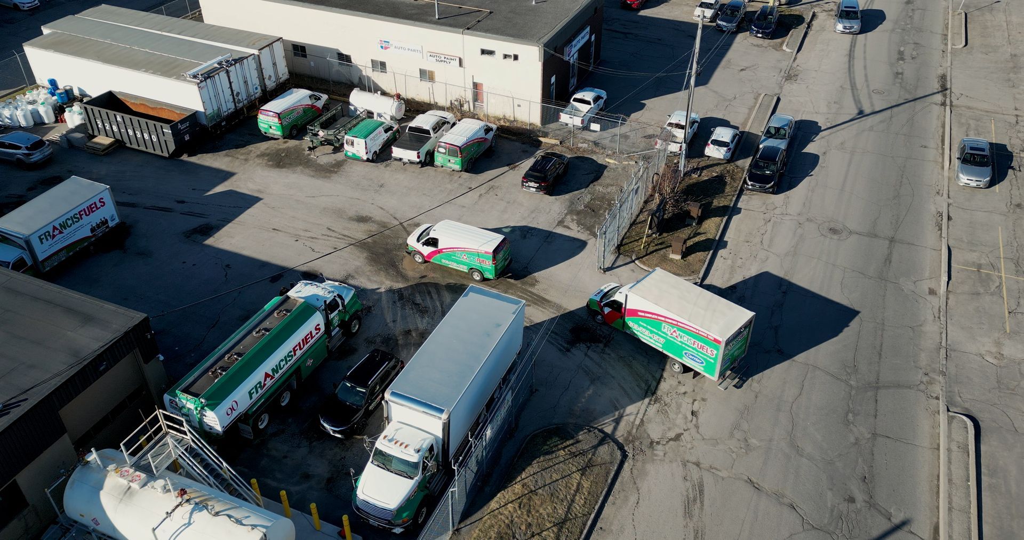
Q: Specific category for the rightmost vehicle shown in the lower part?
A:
truck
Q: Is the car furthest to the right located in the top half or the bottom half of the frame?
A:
top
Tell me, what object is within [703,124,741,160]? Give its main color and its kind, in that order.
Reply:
white car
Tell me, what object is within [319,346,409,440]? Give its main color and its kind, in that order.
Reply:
black car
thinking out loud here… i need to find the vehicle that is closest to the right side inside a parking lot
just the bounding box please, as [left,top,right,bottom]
[955,144,996,189]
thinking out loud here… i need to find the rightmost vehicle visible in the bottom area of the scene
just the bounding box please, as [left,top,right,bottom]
[582,268,756,395]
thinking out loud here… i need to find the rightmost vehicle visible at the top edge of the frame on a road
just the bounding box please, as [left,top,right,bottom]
[835,1,865,35]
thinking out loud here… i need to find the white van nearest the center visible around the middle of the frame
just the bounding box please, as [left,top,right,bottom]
[401,218,519,281]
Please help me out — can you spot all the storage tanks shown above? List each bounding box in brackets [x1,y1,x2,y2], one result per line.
[350,87,404,121]
[43,449,299,540]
